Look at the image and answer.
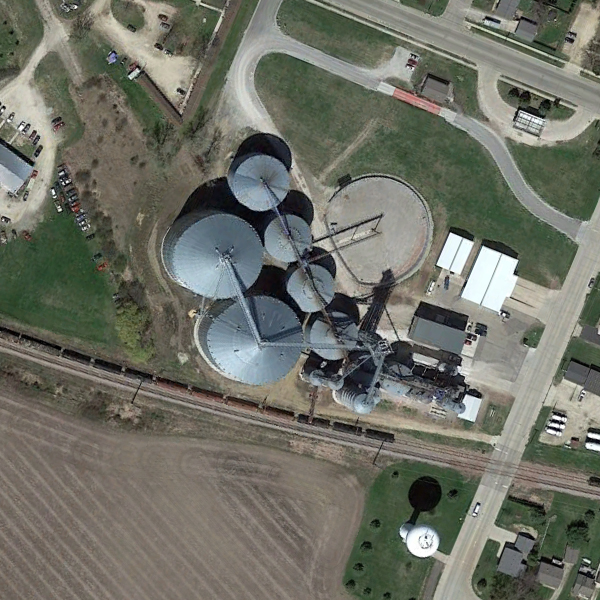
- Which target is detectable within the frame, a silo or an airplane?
silo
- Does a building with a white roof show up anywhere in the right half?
Yes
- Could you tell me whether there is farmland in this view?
Yes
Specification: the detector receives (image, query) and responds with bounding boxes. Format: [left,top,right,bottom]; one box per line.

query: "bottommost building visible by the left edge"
[0,141,34,194]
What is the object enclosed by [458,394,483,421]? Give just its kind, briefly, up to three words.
shed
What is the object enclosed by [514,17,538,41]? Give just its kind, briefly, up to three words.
building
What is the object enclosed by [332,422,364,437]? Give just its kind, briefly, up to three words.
rail car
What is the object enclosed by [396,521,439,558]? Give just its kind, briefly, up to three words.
water tower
